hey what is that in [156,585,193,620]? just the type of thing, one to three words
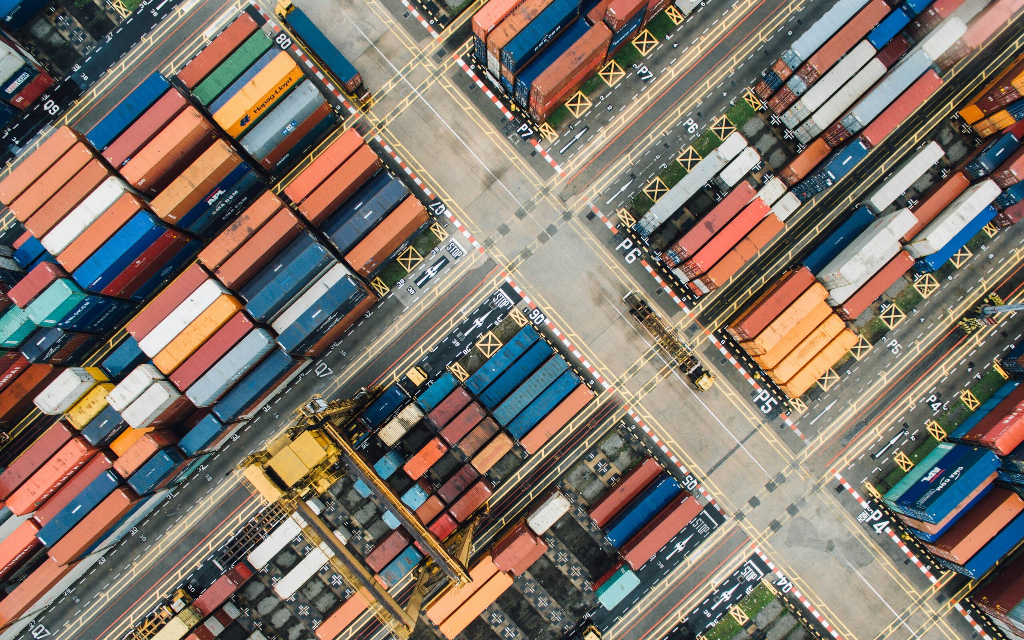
truck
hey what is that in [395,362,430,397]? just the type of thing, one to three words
truck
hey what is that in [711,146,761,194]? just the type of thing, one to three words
shipping container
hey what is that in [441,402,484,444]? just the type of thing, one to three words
shipping container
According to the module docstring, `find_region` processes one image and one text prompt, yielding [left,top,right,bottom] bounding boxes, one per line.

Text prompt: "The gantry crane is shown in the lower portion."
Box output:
[241,377,500,640]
